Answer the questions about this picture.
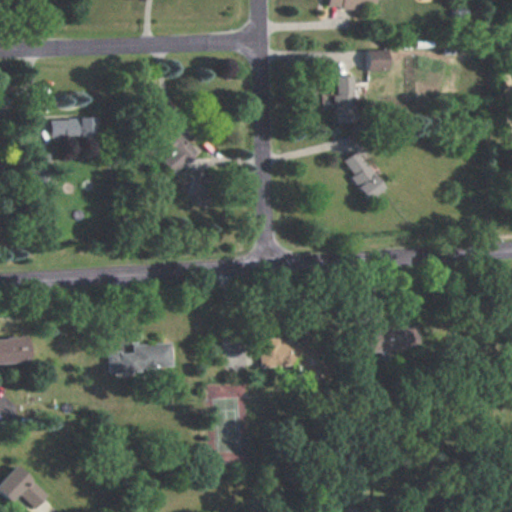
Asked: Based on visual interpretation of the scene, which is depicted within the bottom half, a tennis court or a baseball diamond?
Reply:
tennis court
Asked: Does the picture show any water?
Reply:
No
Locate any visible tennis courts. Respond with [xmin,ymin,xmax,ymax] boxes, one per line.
[206,384,247,462]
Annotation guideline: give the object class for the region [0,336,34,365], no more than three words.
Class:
house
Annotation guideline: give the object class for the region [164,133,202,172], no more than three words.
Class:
house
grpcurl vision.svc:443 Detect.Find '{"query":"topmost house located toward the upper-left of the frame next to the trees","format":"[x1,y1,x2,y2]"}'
[52,116,95,140]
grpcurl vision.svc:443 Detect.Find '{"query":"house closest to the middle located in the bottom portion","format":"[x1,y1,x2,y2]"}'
[260,335,300,369]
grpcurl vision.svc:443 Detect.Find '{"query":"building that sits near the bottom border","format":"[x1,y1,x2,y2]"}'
[0,464,48,508]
